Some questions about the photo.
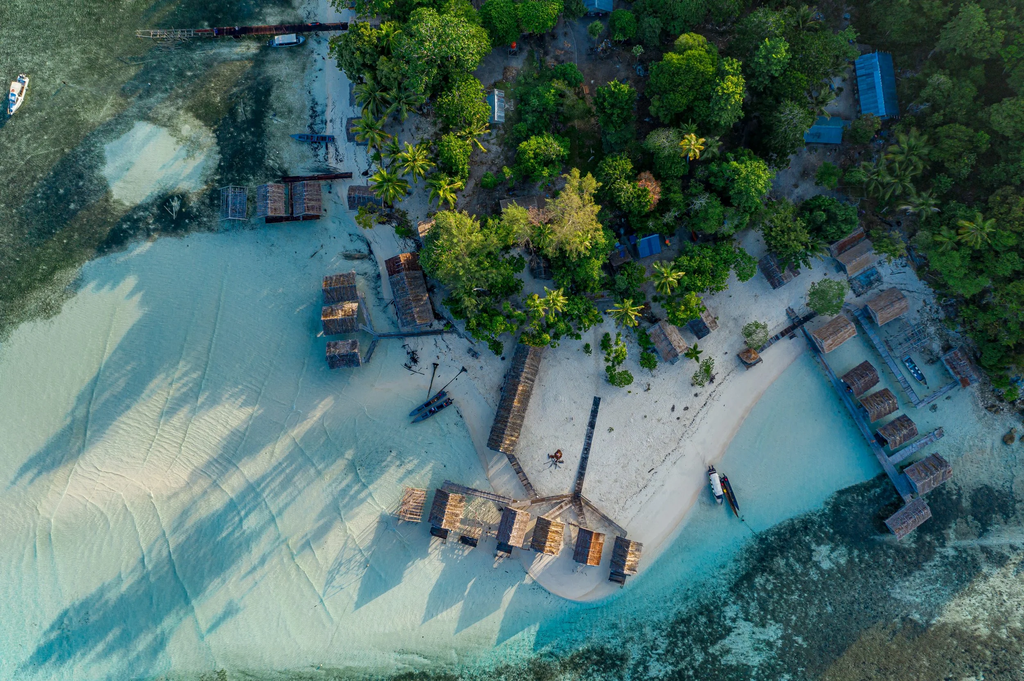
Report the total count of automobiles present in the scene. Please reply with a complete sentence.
I count no automobiles.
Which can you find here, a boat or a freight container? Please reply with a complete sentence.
There is a boat in the scene.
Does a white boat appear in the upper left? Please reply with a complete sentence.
Yes, a white boat appears in the upper left.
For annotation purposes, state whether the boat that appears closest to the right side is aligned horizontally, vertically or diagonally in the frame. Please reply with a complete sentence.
The boat that appears closest to the right side is oriented diagonally.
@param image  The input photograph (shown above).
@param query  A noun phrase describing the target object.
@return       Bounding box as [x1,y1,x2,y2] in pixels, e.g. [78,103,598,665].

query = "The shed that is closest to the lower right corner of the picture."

[873,494,930,538]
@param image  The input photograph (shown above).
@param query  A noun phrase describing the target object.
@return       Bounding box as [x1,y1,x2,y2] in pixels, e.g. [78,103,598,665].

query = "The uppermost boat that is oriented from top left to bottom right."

[901,353,927,385]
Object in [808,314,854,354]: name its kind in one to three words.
shed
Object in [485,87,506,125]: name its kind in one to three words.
building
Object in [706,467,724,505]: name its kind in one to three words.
boat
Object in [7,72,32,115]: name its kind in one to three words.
boat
